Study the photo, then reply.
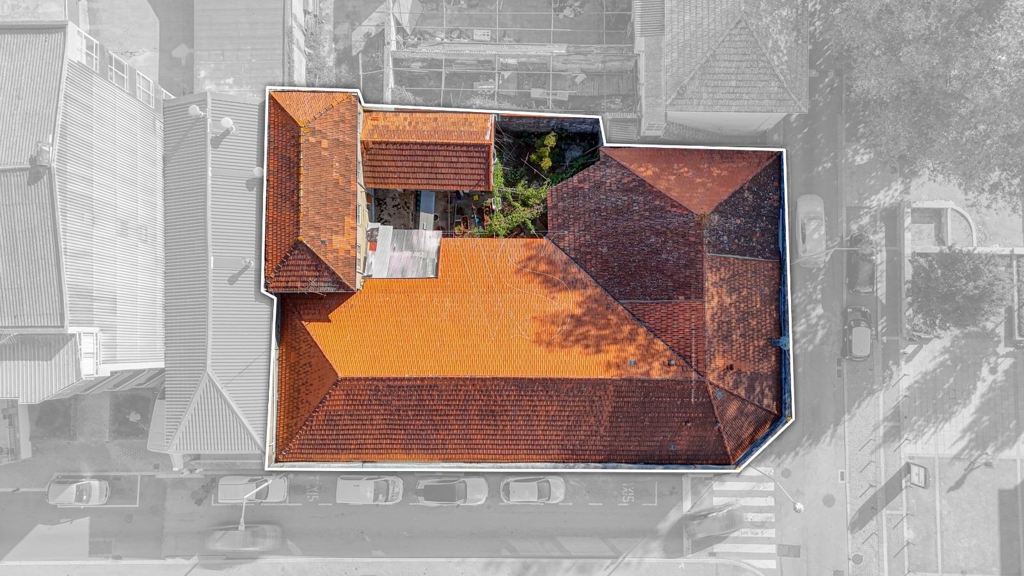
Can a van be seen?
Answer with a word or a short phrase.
Yes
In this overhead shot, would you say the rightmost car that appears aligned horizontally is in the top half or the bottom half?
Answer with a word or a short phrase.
bottom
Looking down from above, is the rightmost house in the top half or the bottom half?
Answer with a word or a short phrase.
top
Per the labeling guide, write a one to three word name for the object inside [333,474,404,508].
van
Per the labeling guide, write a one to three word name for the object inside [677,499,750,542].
car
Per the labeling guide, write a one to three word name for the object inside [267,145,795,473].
house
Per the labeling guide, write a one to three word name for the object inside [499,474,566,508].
car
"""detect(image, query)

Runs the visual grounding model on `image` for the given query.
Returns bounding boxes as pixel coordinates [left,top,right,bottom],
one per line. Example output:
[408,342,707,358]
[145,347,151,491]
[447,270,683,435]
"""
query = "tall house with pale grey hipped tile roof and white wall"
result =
[655,0,810,130]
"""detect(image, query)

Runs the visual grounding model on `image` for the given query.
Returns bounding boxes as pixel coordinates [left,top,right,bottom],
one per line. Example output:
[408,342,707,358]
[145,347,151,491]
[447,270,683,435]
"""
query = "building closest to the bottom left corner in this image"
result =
[0,401,47,464]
